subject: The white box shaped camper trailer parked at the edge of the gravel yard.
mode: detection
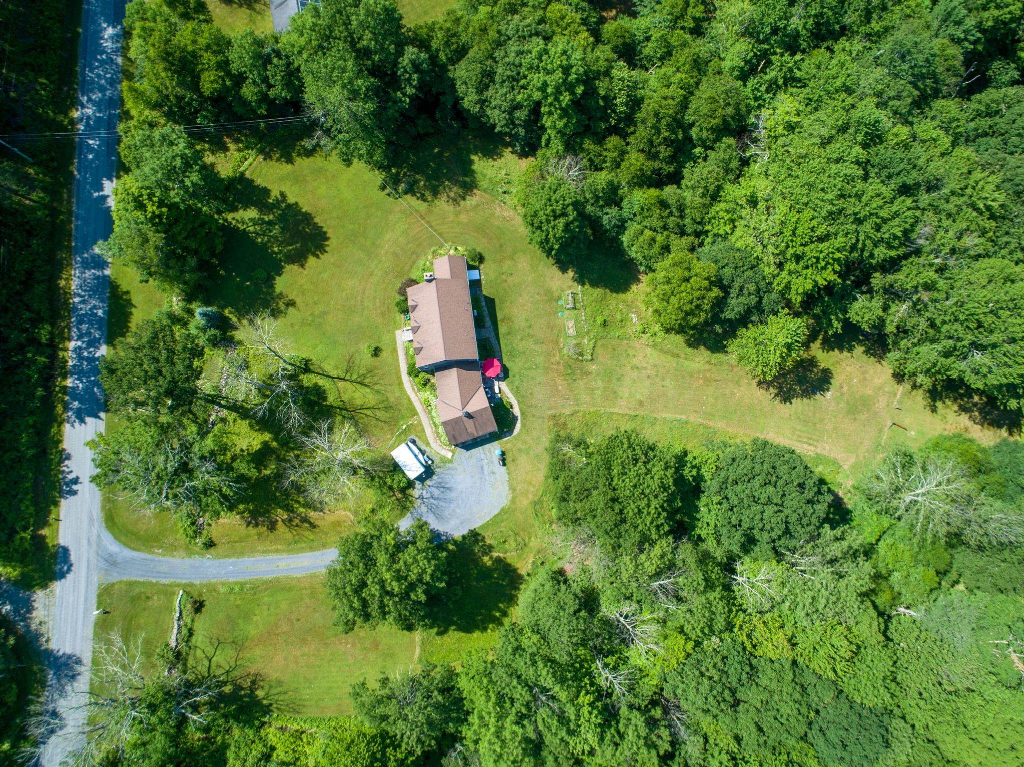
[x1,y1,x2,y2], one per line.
[390,443,426,480]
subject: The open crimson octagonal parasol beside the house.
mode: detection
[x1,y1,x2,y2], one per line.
[481,358,500,377]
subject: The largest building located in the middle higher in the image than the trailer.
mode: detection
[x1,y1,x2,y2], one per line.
[407,255,498,446]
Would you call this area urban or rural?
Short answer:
rural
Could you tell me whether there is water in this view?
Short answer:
No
